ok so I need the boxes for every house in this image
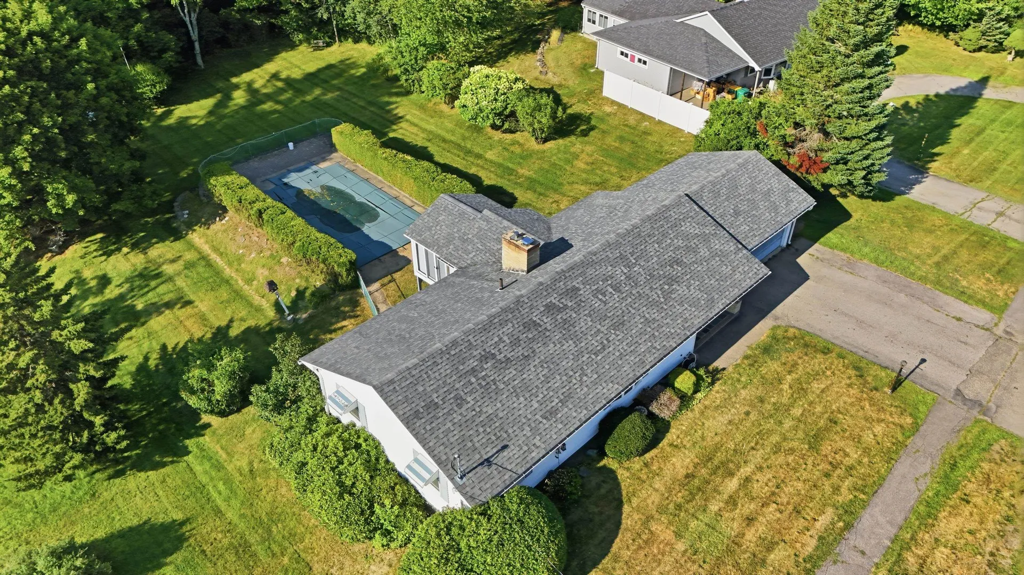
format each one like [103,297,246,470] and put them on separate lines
[299,153,817,515]
[578,0,829,111]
